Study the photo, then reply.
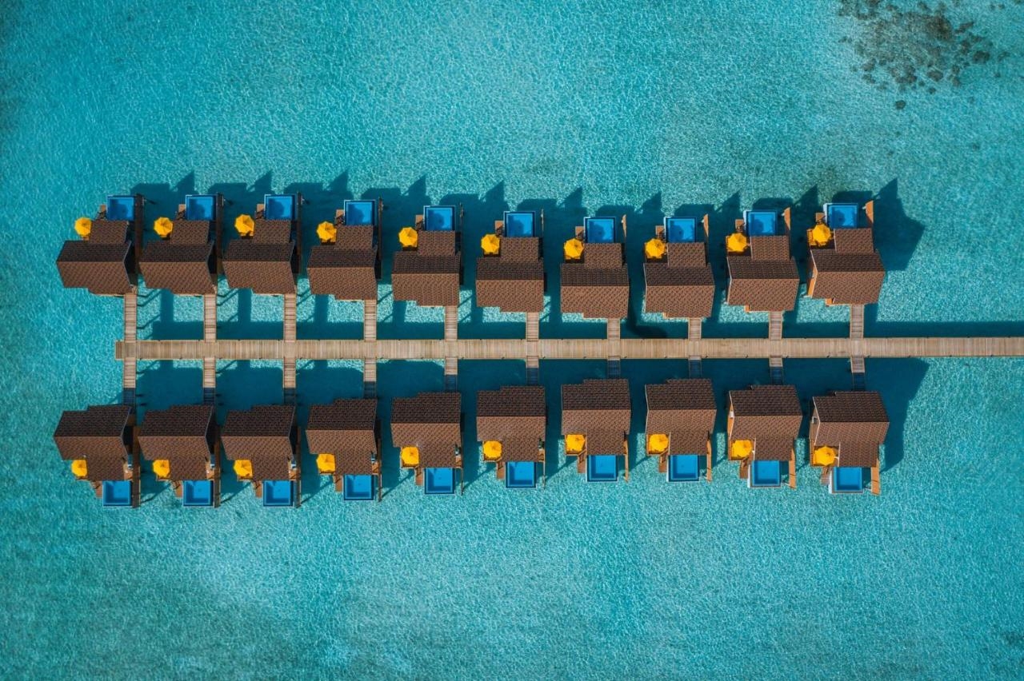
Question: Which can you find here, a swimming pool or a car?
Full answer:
I can see a swimming pool in this picture.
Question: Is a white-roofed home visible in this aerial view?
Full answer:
No, this view has no white-roofed home in it.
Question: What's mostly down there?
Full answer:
The bulk of the photo consists of water.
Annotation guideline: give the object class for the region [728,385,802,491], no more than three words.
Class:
house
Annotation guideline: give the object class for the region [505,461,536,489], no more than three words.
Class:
swimming pool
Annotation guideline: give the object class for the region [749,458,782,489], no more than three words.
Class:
swimming pool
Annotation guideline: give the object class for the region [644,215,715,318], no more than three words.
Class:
house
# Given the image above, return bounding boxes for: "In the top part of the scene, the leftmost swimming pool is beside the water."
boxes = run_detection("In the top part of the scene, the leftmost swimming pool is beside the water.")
[105,195,137,224]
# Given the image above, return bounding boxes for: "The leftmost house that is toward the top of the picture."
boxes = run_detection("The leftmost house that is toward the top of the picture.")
[56,191,149,295]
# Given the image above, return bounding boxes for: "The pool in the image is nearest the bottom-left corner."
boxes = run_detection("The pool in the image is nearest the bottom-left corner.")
[99,478,131,508]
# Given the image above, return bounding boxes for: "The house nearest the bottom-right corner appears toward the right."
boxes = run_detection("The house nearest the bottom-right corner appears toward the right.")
[810,391,889,497]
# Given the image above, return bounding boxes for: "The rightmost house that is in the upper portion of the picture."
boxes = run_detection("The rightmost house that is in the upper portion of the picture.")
[807,201,885,305]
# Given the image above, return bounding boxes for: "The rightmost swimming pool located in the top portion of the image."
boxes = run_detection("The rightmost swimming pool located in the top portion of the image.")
[824,204,859,234]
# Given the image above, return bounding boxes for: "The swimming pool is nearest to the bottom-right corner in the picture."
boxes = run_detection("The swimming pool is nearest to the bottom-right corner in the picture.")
[830,464,865,495]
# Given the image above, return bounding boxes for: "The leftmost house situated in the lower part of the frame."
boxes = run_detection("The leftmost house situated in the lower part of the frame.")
[53,405,144,511]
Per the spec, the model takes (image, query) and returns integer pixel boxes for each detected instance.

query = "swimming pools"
[341,471,374,502]
[667,452,700,483]
[105,195,137,224]
[343,200,375,230]
[749,458,782,489]
[664,218,697,246]
[180,478,213,508]
[745,211,778,238]
[504,212,534,238]
[263,194,296,224]
[586,455,618,483]
[183,195,216,224]
[99,478,131,508]
[830,464,865,495]
[505,461,536,489]
[424,206,455,231]
[824,204,859,234]
[260,478,294,508]
[584,218,615,243]
[423,468,455,496]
